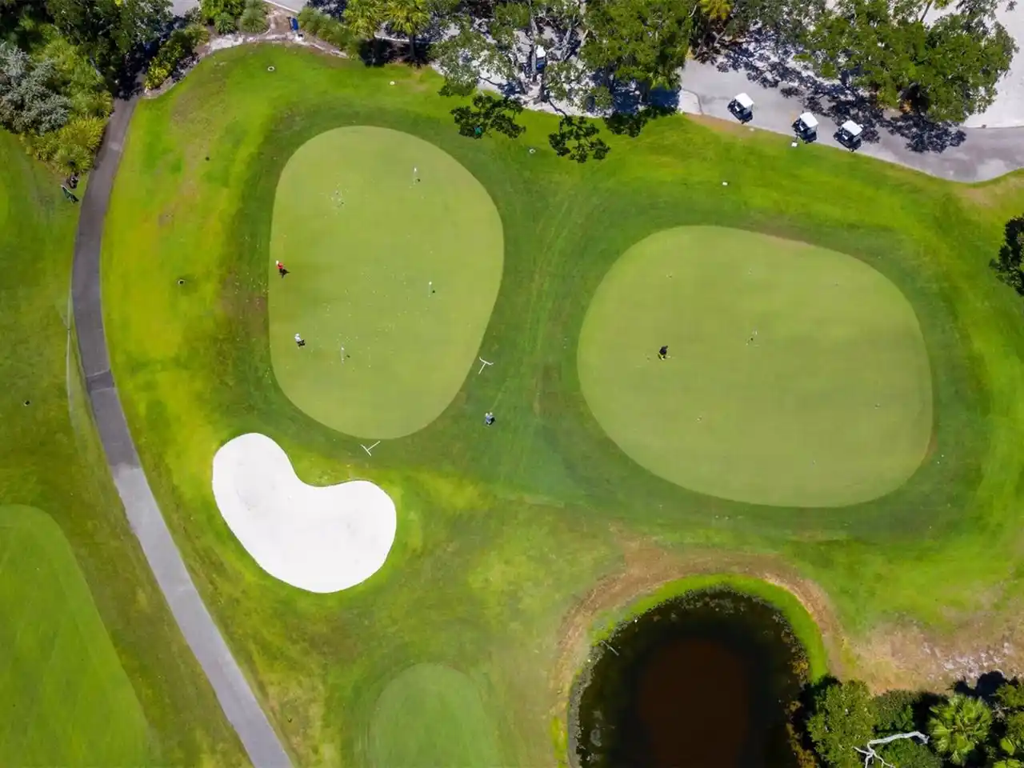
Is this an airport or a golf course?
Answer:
golf course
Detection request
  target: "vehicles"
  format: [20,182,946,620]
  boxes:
[532,45,546,72]
[791,113,818,142]
[729,94,754,123]
[833,121,863,150]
